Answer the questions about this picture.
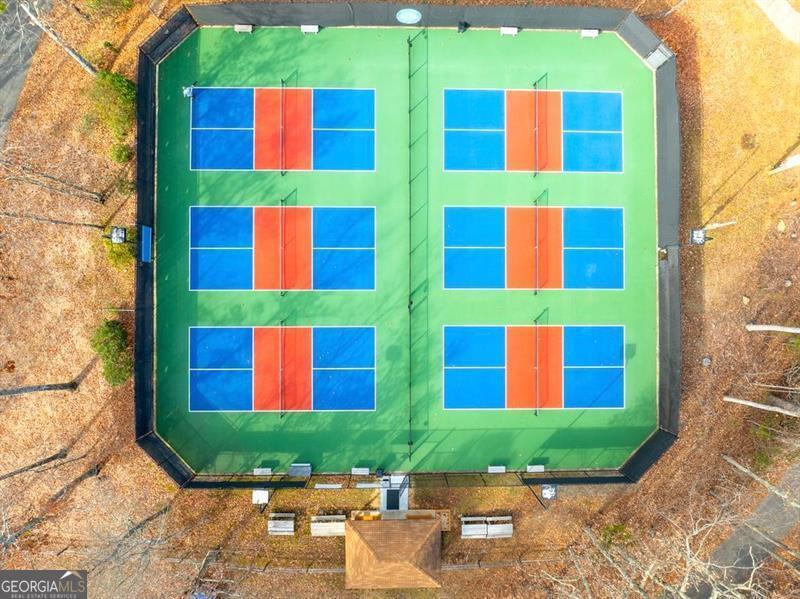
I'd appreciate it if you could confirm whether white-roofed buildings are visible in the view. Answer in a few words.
No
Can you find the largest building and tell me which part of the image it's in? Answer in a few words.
bottom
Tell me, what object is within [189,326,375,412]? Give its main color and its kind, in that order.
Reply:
blue sports court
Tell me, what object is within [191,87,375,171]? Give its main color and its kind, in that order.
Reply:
blue sports court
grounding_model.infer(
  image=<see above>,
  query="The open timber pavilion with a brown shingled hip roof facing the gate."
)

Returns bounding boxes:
[345,507,452,589]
